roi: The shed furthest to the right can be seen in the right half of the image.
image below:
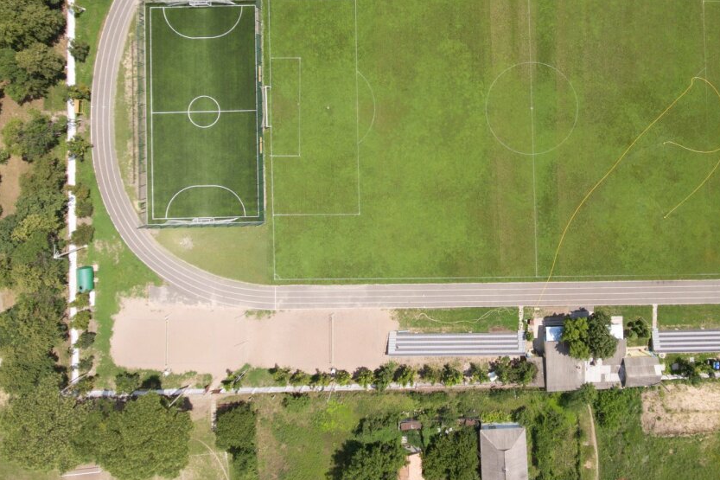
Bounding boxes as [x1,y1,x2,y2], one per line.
[623,352,662,387]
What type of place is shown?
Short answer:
sports ground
